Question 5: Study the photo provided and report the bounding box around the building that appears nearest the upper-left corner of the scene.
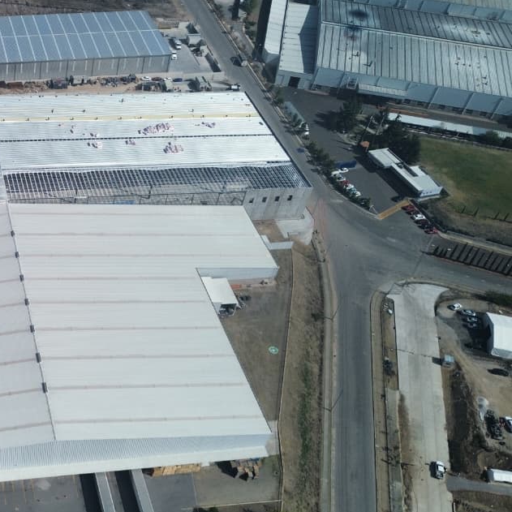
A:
[0,10,169,80]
